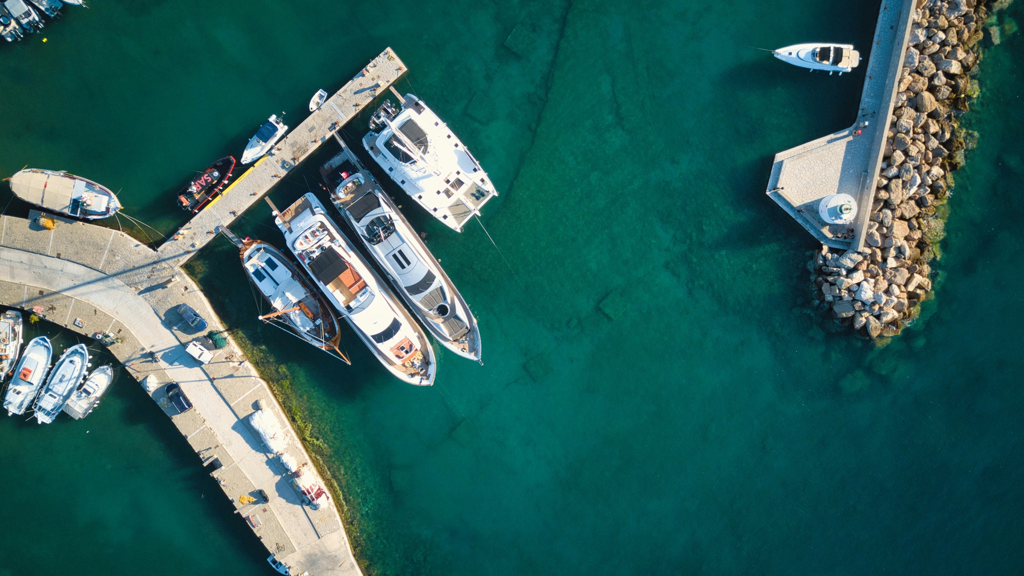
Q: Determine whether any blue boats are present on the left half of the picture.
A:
Yes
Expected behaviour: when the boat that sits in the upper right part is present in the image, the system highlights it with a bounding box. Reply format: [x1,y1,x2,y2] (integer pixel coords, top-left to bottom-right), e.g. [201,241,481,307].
[772,41,863,74]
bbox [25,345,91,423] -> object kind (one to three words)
boat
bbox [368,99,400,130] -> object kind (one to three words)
boat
